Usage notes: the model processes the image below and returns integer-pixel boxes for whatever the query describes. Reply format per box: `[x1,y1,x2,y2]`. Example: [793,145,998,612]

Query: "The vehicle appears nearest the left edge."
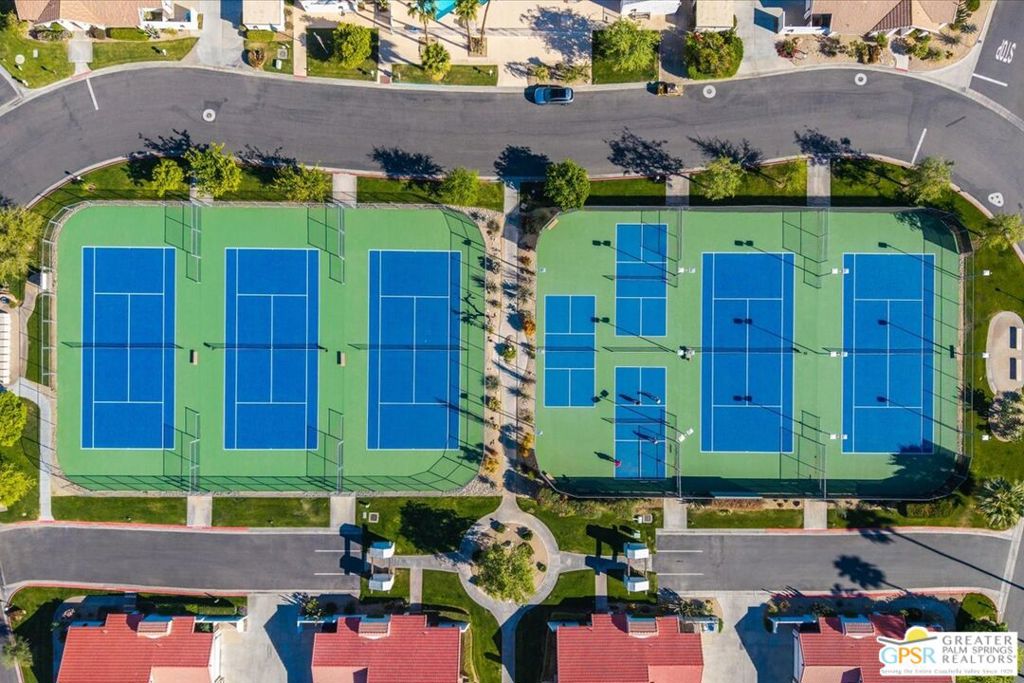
[535,82,575,104]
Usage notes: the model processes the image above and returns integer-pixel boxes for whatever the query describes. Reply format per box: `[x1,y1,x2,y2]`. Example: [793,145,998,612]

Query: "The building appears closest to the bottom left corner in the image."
[56,611,223,683]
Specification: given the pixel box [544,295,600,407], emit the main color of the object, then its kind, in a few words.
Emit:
blue sports court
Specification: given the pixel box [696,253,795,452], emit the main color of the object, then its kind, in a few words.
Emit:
blue tennis court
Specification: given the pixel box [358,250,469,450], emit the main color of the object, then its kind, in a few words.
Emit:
blue tennis court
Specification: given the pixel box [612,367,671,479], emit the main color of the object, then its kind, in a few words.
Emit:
blue sports court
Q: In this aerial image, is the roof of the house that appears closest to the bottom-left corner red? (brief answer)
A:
Yes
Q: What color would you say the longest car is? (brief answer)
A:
blue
